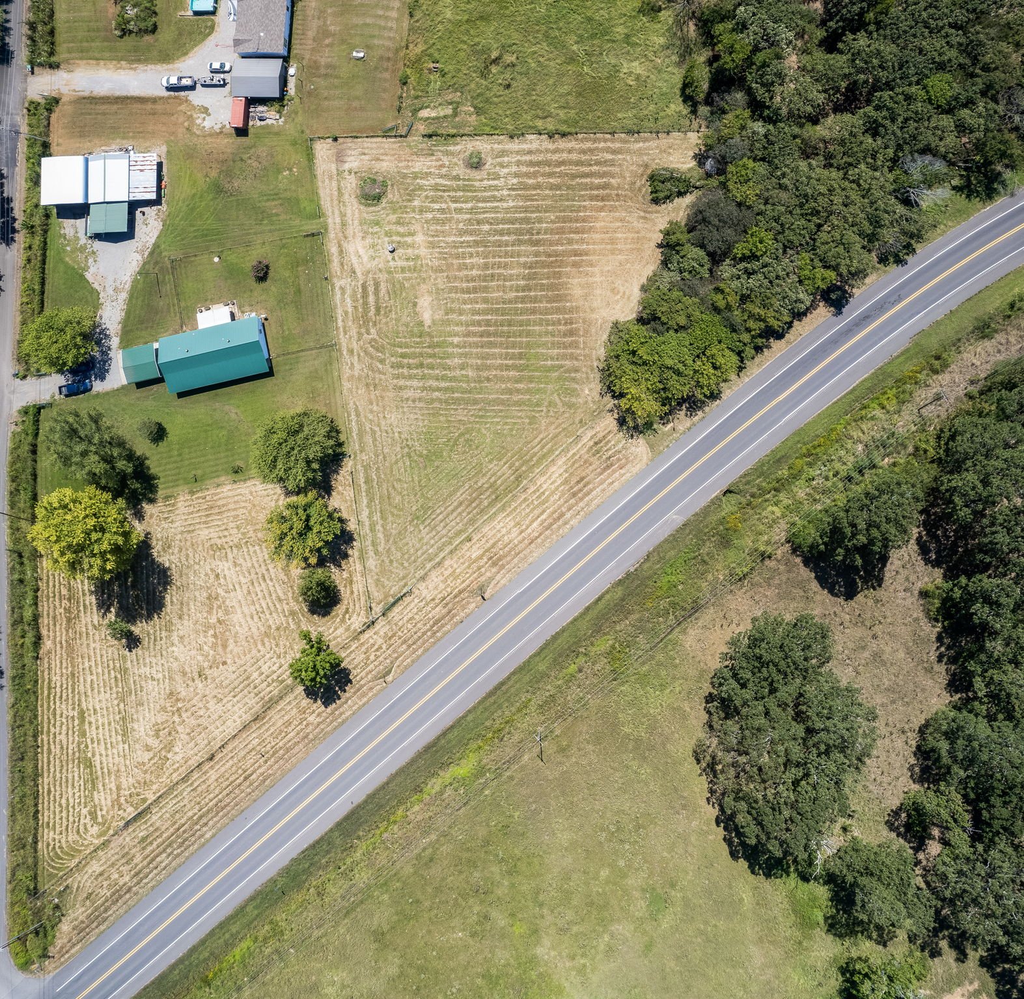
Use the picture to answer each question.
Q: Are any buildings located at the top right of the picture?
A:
No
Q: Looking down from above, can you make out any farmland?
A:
Yes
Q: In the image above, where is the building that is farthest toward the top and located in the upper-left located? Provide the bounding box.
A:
[233,0,290,56]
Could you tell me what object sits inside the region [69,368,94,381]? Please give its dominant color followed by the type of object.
black vehicle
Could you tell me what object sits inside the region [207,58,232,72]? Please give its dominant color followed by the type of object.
white car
